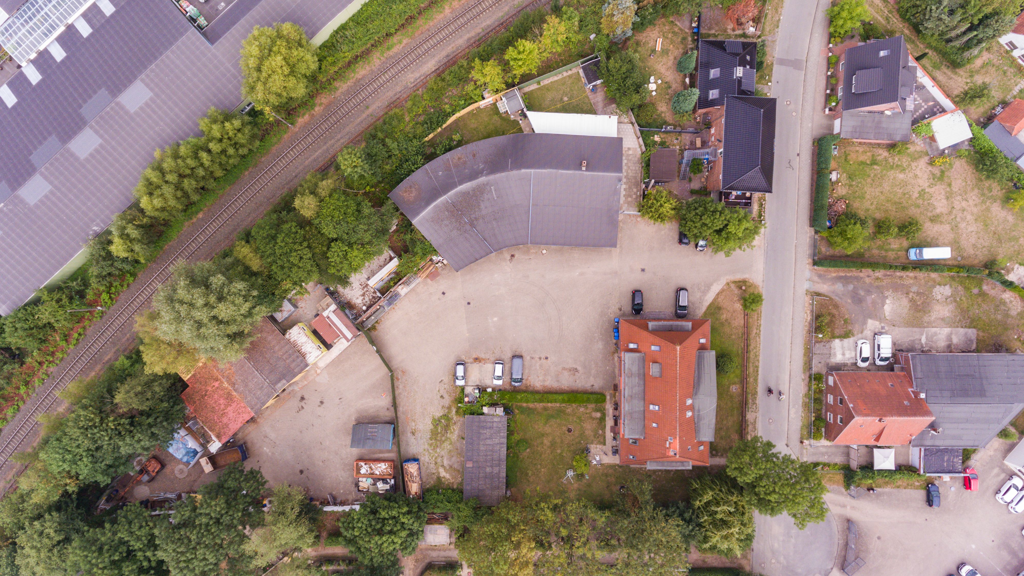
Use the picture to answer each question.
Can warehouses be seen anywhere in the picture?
Yes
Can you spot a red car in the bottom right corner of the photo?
Yes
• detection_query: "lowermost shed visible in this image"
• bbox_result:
[422,521,450,544]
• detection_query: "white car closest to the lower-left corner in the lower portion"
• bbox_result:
[454,361,466,385]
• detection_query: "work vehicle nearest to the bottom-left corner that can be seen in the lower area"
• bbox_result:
[116,457,162,501]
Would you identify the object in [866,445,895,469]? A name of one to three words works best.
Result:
gazebo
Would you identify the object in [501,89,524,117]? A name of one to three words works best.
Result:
shed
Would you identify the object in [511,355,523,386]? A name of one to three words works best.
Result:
vehicle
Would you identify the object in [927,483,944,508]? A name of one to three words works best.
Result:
car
